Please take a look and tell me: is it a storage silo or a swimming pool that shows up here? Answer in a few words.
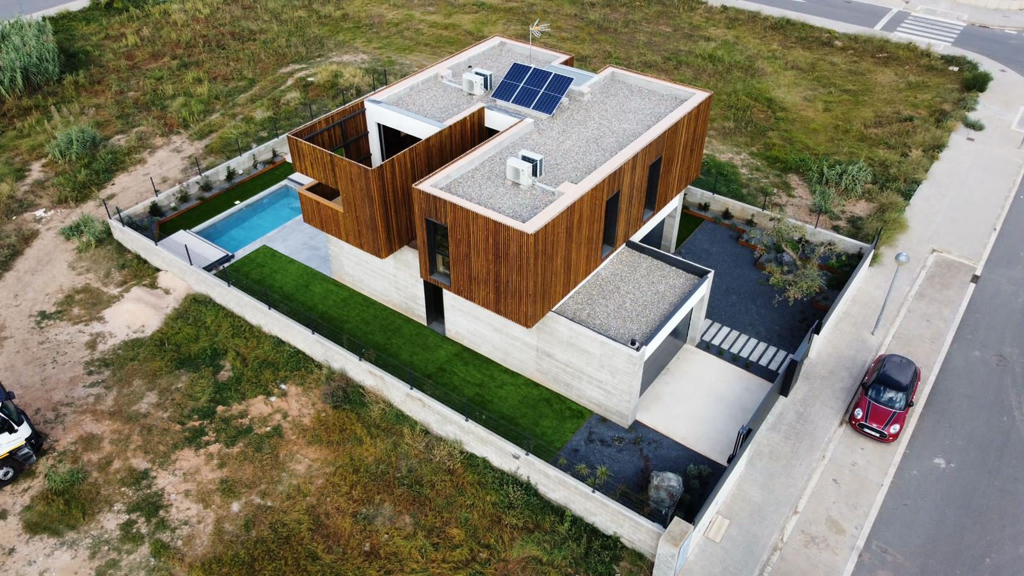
swimming pool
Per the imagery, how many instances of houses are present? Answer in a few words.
1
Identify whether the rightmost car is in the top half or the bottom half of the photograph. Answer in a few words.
bottom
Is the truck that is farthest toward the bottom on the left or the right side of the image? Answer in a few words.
left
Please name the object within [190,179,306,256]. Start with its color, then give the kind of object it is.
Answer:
blue swimming pool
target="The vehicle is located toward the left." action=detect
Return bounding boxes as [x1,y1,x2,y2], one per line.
[0,401,50,489]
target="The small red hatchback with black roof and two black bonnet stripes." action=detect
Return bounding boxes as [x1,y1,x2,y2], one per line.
[846,349,931,447]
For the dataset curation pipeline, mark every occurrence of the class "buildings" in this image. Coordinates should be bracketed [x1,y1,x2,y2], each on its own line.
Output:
[287,35,714,428]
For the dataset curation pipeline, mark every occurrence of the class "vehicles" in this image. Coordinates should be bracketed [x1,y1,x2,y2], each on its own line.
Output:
[846,349,931,447]
[0,401,50,489]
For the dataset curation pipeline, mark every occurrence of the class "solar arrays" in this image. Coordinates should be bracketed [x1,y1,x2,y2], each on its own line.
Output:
[492,62,572,121]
